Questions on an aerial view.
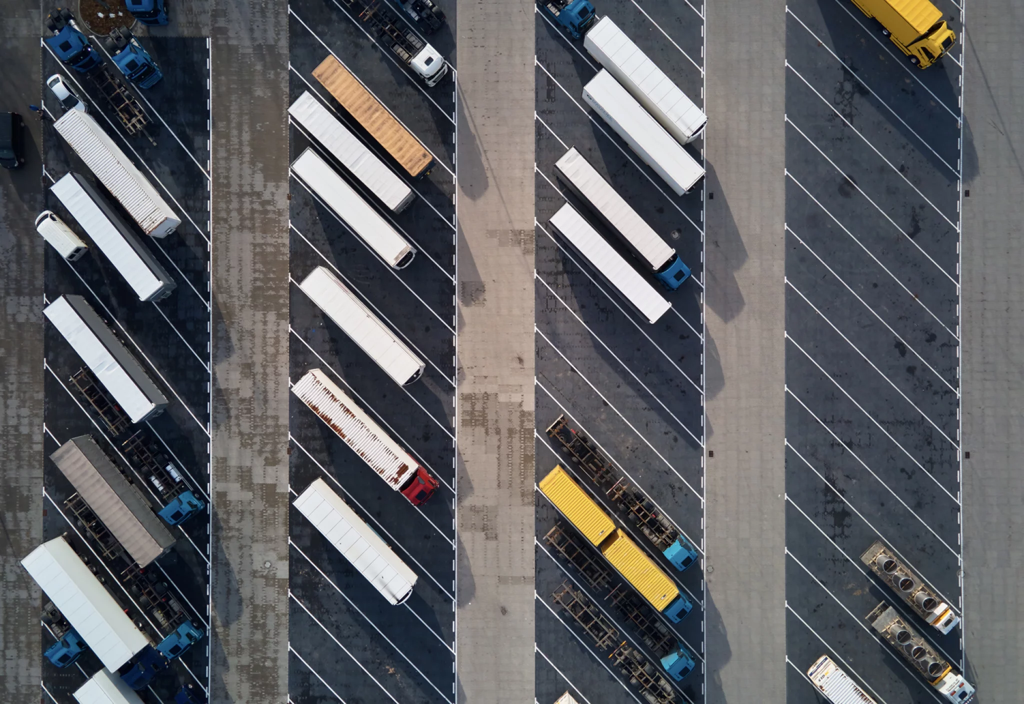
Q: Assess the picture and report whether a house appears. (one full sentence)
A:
No, the scene contains no house.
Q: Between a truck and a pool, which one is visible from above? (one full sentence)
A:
Of the two, only a truck appears.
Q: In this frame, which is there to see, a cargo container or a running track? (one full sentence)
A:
This aerial view contains a cargo container.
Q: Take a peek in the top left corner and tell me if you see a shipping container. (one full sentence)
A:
Yes, there is a shipping container in the top left corner.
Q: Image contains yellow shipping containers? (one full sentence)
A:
Yes, the photo shows a yellow shipping container.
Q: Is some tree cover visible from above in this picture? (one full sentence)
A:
No, there is no tree cover in the image.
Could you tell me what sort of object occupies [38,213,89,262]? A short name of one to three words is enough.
van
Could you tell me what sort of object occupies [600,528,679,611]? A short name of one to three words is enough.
shipping container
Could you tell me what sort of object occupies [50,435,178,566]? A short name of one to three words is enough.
trailer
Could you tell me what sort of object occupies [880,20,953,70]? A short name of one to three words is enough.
truck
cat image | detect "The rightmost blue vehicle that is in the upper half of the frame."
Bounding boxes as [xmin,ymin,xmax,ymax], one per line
[628,252,687,291]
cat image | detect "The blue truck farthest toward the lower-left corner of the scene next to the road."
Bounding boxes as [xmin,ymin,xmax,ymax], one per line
[46,601,92,662]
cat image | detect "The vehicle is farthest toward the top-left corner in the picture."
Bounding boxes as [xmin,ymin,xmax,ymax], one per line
[45,8,101,72]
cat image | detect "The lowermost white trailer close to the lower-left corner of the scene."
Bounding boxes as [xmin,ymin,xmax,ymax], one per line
[72,666,150,704]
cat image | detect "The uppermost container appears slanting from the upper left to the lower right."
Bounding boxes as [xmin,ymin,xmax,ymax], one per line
[54,109,181,240]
